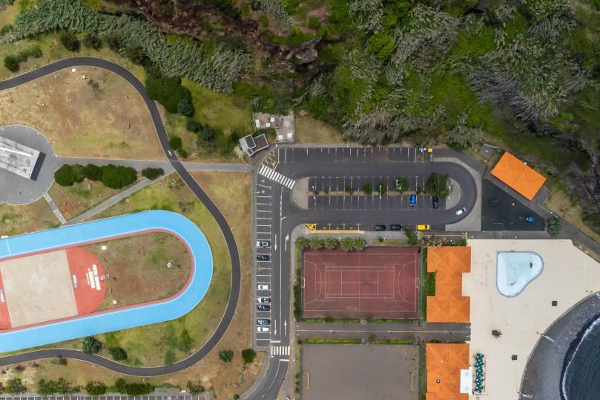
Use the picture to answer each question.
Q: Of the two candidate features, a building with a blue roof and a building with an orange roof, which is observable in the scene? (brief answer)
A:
building with an orange roof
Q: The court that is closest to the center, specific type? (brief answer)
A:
tennis court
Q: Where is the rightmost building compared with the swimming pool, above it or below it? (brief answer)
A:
above it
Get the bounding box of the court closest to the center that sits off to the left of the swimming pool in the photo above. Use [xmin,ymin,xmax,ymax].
[301,246,420,318]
